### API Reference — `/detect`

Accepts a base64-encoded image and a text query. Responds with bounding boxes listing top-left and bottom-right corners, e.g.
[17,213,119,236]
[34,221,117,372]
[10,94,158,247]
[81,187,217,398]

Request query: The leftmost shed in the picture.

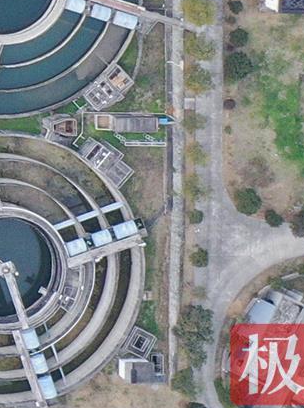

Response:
[119,358,165,383]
